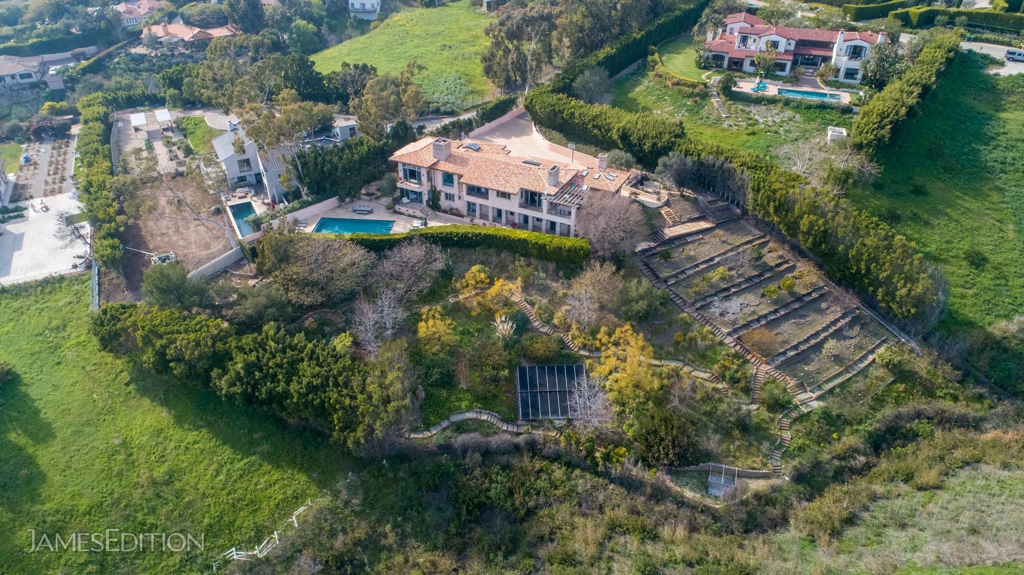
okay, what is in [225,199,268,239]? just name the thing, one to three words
swimming pool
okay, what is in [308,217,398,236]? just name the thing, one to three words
swimming pool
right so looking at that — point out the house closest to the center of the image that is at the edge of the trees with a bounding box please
[387,131,632,237]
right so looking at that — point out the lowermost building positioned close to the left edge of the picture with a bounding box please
[0,164,31,208]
